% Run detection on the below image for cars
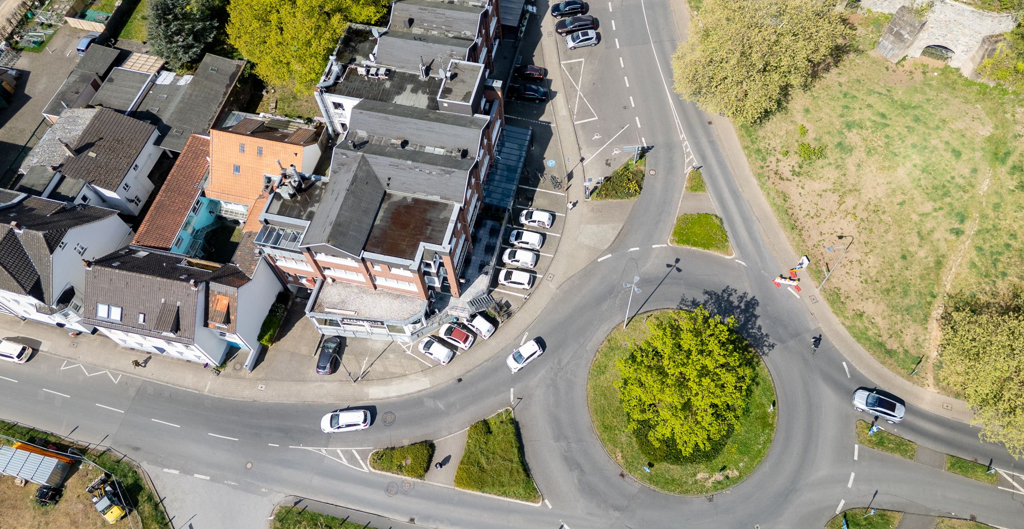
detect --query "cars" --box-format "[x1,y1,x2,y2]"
[565,28,600,50]
[501,247,537,271]
[511,64,549,84]
[460,314,496,343]
[850,389,908,424]
[322,409,372,437]
[508,228,544,252]
[504,336,546,372]
[509,83,548,103]
[316,335,343,377]
[550,0,587,19]
[557,12,595,35]
[495,267,537,293]
[417,338,454,367]
[0,335,31,362]
[518,208,553,231]
[438,323,474,352]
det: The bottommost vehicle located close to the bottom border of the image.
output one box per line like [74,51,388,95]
[82,466,126,521]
